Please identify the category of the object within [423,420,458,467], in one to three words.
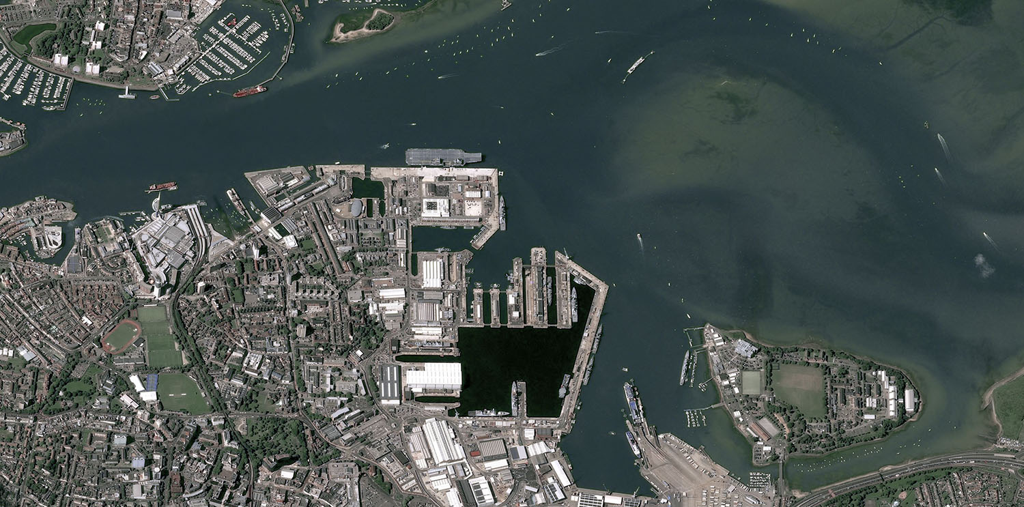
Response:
building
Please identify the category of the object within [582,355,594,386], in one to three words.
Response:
ship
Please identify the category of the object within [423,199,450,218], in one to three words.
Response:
building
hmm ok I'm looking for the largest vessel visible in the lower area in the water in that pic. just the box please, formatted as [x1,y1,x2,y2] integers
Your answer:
[624,383,641,425]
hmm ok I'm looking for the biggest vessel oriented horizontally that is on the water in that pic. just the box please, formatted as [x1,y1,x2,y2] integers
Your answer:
[406,148,482,167]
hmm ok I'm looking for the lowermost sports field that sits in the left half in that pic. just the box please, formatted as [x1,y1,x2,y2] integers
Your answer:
[158,373,210,414]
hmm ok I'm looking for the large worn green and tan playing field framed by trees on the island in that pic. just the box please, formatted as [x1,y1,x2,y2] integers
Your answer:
[772,364,826,418]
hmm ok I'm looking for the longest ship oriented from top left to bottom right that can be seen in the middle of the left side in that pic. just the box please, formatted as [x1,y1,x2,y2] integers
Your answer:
[227,190,245,215]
